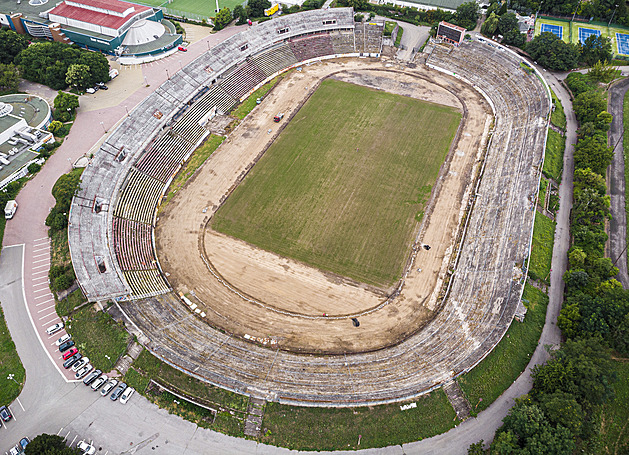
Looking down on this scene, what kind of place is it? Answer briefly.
sports ground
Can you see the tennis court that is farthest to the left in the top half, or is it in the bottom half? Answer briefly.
top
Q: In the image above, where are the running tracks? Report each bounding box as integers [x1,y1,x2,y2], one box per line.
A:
[153,42,494,352]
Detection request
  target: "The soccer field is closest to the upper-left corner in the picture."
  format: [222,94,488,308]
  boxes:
[164,0,256,20]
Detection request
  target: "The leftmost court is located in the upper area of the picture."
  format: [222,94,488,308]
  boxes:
[532,18,569,47]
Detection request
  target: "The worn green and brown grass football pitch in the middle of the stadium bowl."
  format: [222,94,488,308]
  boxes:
[207,80,464,289]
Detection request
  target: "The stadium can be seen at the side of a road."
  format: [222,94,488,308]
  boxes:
[68,7,552,407]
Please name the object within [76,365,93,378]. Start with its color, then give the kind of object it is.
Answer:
white vehicle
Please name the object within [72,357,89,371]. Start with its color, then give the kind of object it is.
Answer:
white vehicle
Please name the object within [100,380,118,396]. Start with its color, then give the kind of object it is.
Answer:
white car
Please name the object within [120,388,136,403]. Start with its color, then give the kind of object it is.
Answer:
white car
